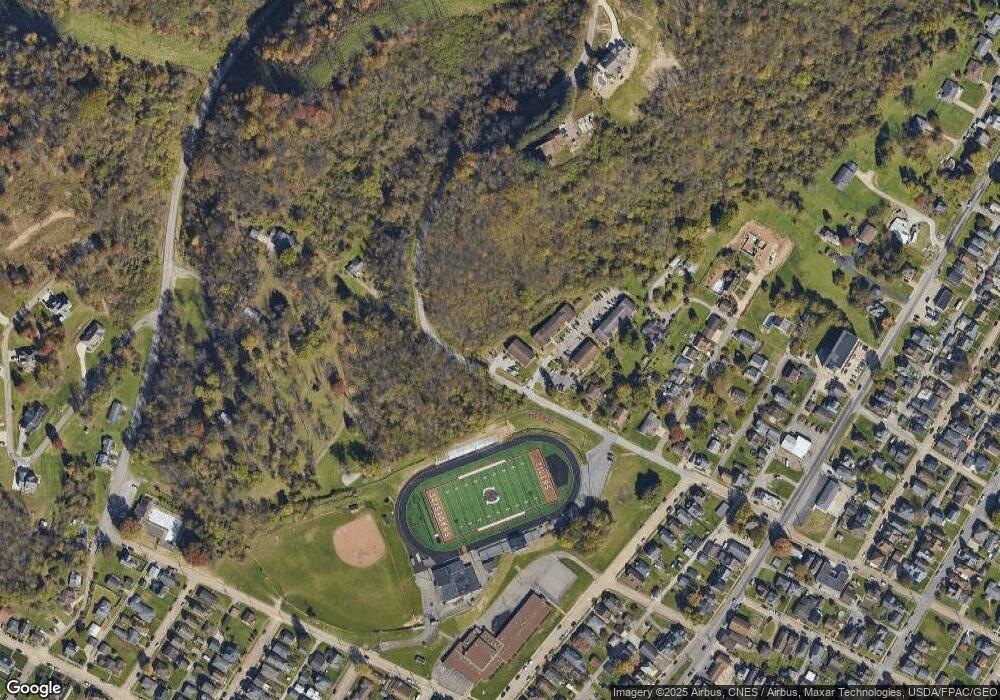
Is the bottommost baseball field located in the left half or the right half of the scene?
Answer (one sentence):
The bottommost baseball field appears in the left half of the scene.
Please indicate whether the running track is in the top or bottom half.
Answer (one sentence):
The running track sits in the bottom half of the picture.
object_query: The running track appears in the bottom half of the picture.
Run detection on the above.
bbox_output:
[401,432,581,560]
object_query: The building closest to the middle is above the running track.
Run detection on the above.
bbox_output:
[505,338,536,367]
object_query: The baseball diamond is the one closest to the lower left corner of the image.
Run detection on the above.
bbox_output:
[286,515,402,587]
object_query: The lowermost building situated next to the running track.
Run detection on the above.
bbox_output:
[444,595,552,685]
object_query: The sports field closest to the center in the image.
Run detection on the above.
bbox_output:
[409,439,572,553]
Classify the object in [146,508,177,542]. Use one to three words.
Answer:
building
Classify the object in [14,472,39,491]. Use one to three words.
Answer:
house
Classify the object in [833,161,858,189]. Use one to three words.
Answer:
barn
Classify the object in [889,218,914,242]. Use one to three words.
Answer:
house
